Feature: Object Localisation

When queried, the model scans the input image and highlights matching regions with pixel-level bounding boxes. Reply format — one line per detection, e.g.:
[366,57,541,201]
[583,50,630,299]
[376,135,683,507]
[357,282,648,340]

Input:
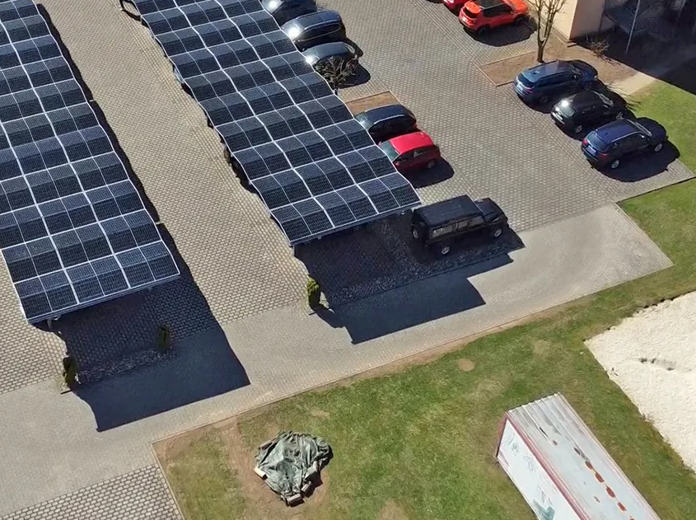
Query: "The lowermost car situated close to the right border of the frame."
[584,111,677,167]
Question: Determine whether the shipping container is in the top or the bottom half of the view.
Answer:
bottom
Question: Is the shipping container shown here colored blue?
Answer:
No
